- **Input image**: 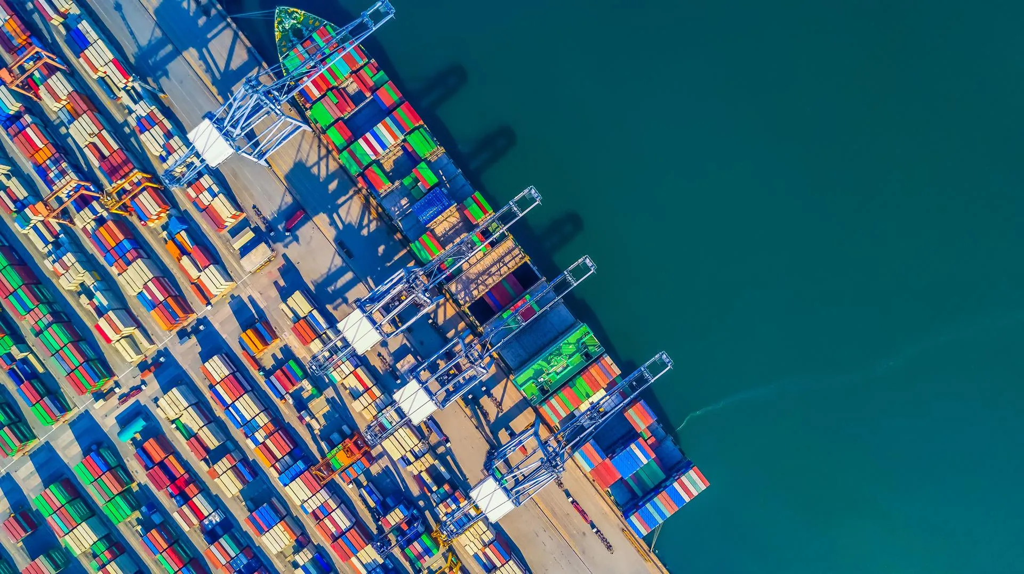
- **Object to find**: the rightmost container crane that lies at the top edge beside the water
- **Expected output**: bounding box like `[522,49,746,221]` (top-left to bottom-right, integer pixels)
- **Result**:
[156,0,394,193]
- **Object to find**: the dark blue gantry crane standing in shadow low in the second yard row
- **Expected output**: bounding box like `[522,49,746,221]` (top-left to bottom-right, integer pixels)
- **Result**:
[369,499,425,558]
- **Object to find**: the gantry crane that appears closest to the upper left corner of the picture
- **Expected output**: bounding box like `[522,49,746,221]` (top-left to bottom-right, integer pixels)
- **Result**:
[0,43,76,101]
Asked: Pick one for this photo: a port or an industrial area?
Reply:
port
